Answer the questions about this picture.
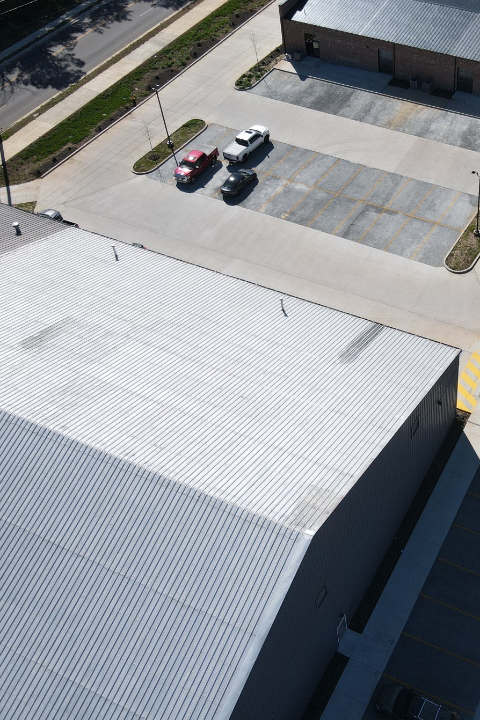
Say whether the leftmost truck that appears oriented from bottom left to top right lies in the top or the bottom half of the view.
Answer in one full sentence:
It is in the top half that the leftmost truck that appears oriented from bottom left to top right appears.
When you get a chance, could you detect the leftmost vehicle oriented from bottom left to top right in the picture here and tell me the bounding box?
[170,145,220,185]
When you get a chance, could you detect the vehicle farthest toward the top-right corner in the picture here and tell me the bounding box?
[223,126,271,161]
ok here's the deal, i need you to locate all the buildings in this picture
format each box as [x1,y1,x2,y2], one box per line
[276,0,480,94]
[0,229,463,720]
